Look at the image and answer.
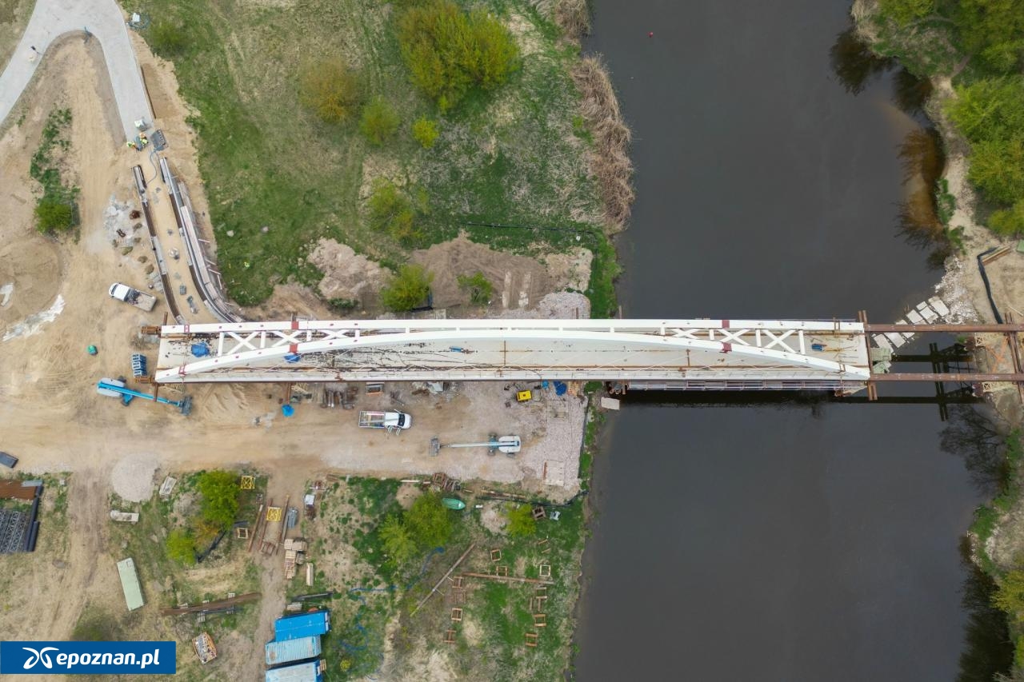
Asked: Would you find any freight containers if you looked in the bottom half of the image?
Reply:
Yes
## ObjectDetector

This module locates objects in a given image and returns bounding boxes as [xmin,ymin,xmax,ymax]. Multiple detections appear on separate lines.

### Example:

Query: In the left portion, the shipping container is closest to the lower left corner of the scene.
[117,557,147,611]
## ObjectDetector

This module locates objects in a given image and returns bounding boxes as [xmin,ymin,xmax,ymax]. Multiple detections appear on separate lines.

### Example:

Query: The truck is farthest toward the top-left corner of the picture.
[106,281,159,311]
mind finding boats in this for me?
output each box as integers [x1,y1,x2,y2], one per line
[442,496,466,510]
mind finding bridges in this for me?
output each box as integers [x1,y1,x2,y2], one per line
[151,317,874,383]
